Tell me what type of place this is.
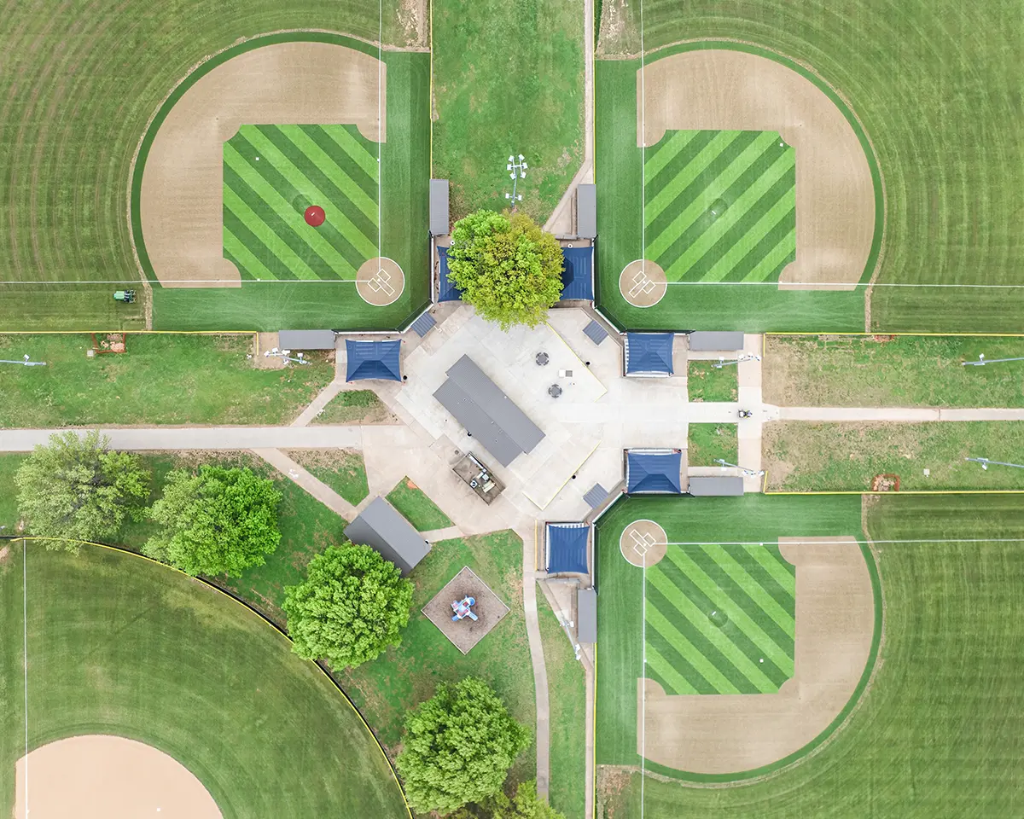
sports ground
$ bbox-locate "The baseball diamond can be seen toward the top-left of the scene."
[0,0,430,332]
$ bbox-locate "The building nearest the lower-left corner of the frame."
[344,497,431,579]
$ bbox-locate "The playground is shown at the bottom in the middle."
[421,567,509,655]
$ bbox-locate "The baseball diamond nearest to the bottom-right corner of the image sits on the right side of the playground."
[596,494,1024,819]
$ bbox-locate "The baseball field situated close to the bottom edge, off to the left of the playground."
[0,538,407,819]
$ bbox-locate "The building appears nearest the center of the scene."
[433,354,546,467]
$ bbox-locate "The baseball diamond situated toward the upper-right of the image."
[596,0,1024,334]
